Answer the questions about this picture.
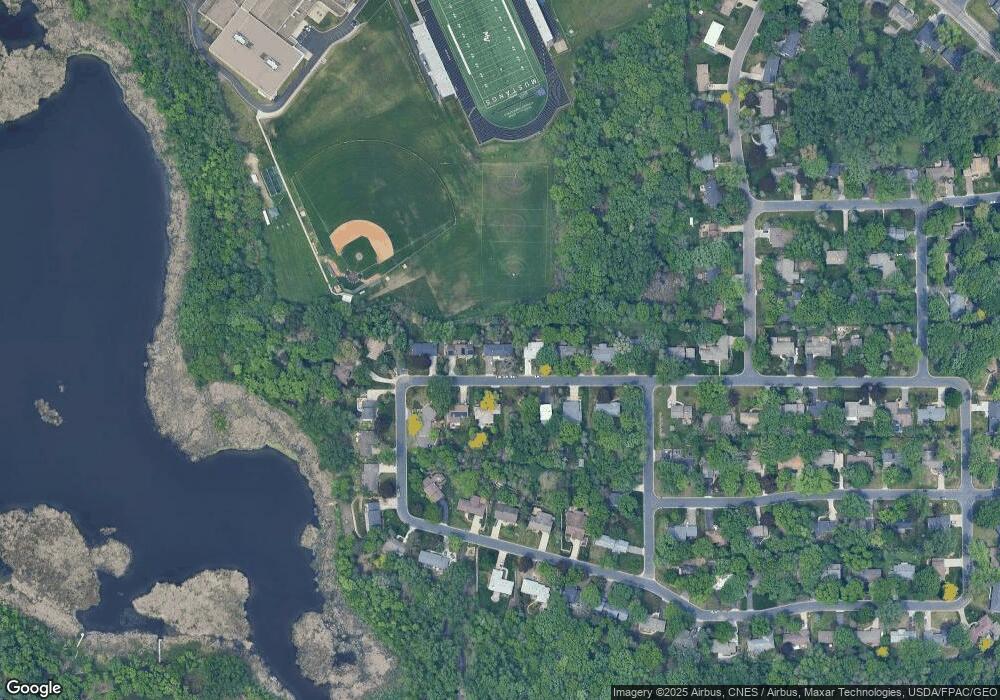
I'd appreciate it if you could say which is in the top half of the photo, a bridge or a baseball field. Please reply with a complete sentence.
Looking in the top half of the photo, you will find a baseball field.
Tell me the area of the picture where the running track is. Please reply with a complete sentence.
The running track appears toward the top of the photo.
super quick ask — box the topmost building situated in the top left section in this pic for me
[198,0,347,100]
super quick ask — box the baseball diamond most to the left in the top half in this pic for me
[292,141,456,296]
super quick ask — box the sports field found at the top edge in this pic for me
[428,0,549,128]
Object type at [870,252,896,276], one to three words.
house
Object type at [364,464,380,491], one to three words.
house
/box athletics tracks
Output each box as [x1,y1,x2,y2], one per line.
[411,0,571,145]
